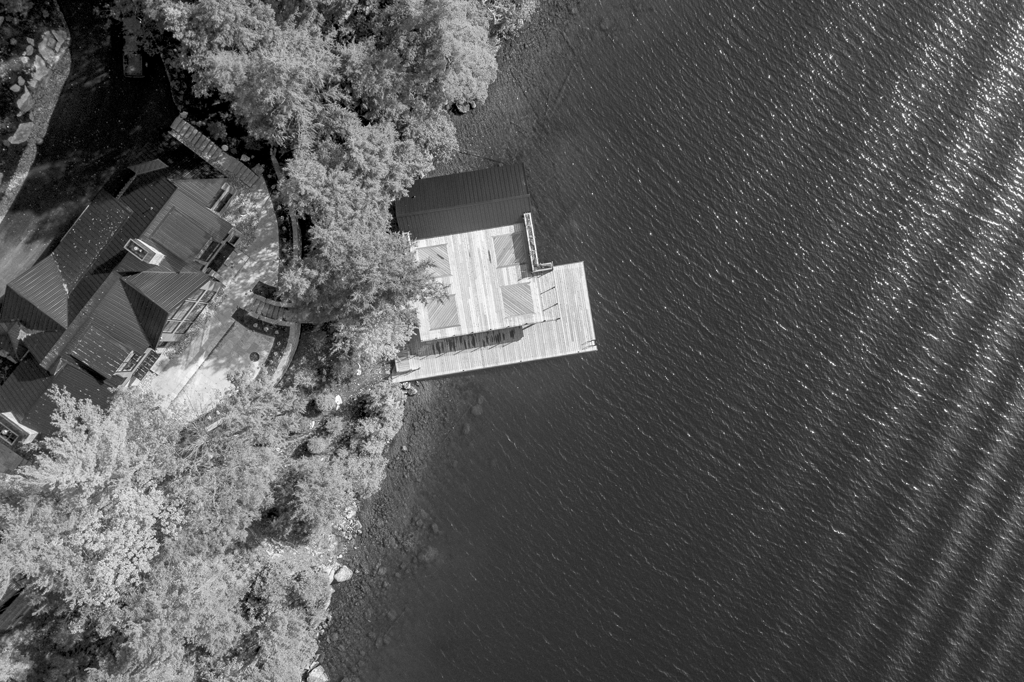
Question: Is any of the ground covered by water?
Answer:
Yes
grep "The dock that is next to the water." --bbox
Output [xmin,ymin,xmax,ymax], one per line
[388,261,597,382]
